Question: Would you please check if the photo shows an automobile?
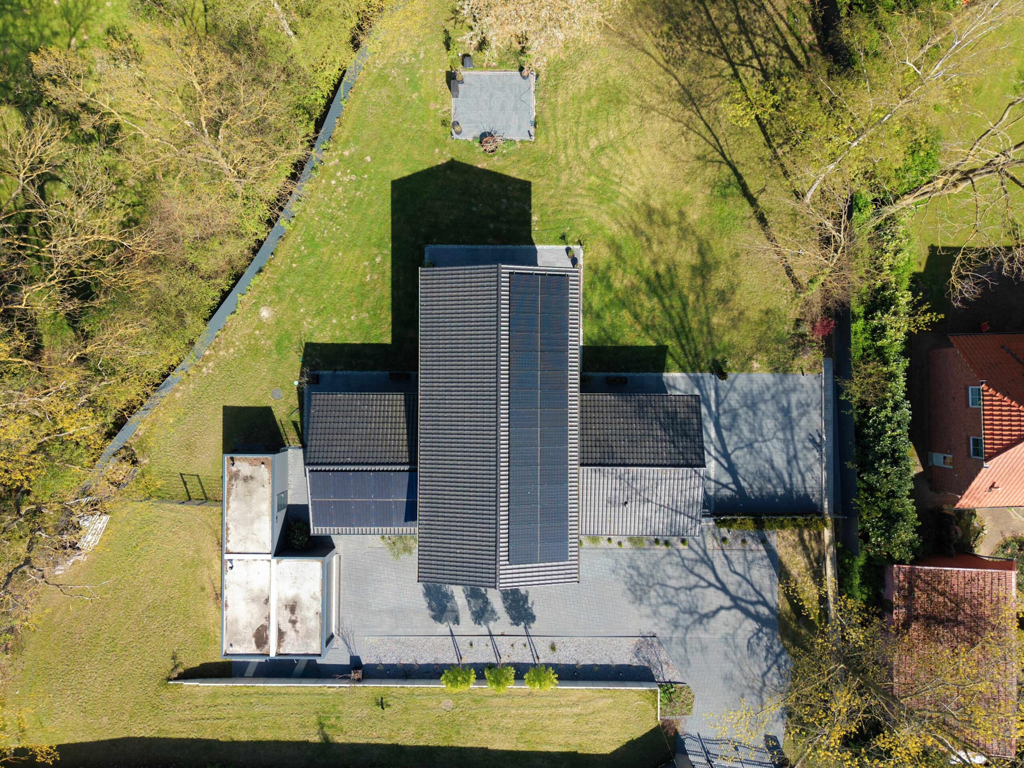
No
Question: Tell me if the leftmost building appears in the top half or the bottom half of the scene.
bottom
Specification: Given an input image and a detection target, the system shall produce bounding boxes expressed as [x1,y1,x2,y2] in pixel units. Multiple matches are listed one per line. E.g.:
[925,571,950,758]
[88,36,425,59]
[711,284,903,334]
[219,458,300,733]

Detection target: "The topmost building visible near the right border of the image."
[915,332,1024,511]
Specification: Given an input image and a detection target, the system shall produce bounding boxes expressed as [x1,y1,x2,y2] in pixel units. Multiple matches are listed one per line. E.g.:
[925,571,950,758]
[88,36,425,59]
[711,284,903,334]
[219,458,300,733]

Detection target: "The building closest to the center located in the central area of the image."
[303,261,707,592]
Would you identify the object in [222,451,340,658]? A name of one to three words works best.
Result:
building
